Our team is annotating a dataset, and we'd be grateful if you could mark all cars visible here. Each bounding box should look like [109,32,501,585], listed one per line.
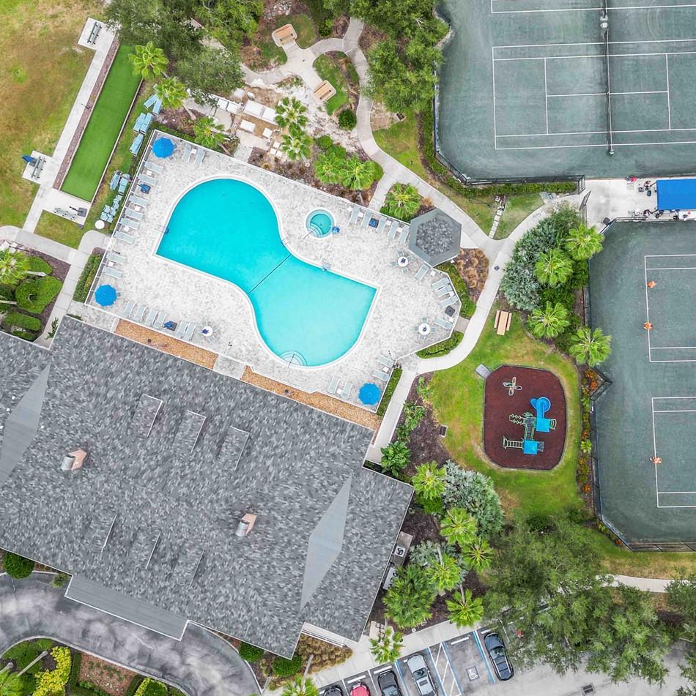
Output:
[377,667,404,696]
[483,630,516,685]
[349,681,371,696]
[406,652,438,696]
[322,685,341,696]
